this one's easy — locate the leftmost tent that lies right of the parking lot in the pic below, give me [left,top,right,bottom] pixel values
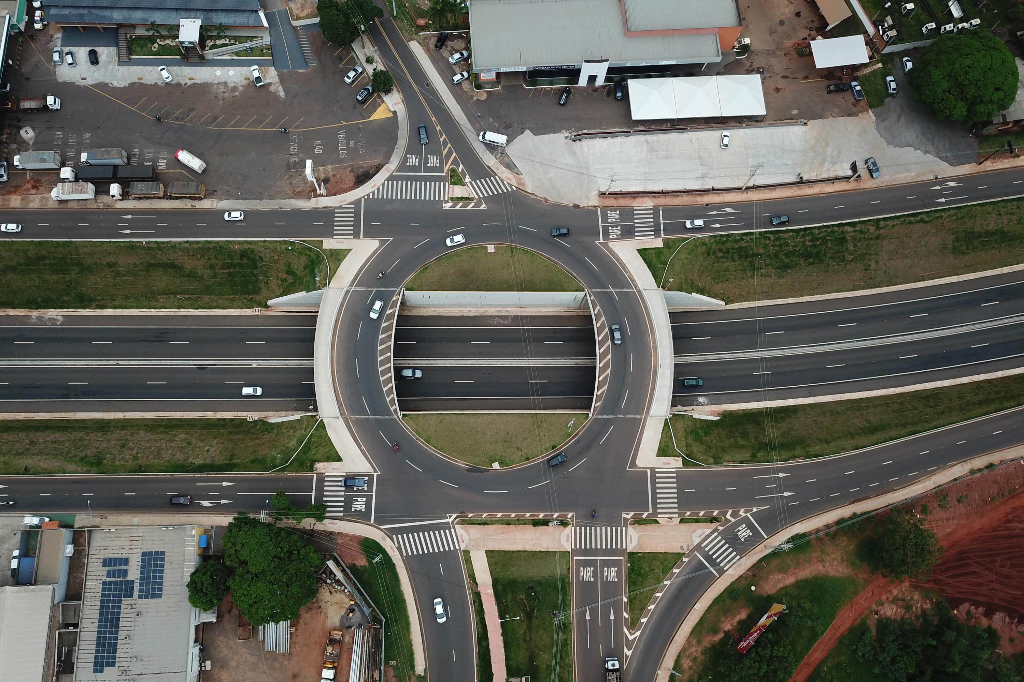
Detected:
[625,77,677,126]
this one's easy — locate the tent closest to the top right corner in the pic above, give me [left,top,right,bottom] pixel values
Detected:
[716,74,766,121]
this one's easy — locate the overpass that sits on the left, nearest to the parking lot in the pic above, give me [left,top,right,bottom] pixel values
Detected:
[312,287,404,417]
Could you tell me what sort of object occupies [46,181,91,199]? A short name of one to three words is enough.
vehicle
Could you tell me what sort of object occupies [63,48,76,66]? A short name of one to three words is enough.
vehicle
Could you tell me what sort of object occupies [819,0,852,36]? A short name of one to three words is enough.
shed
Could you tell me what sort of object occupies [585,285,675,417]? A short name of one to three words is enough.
overpass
